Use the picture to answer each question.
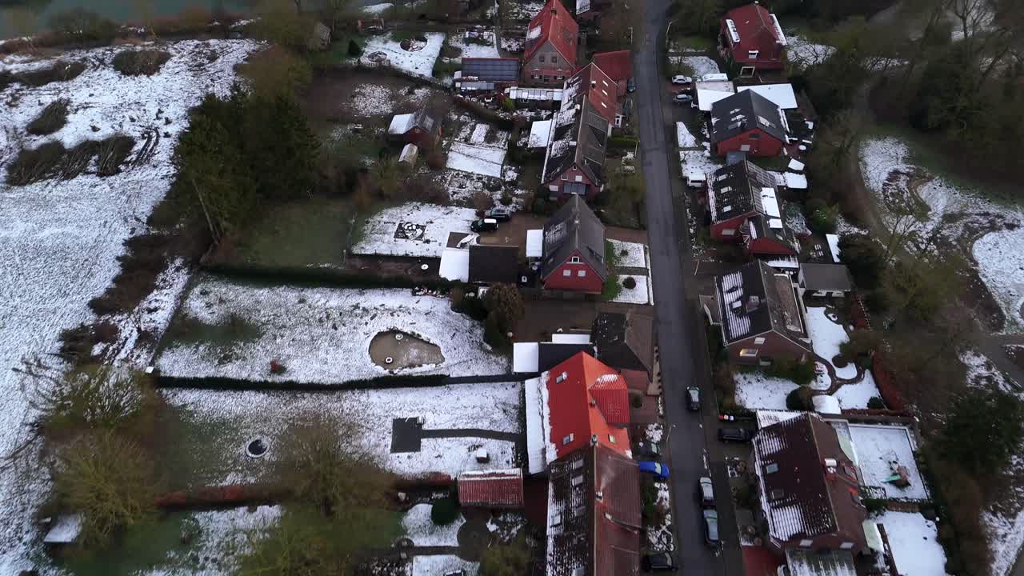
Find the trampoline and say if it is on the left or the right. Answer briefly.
left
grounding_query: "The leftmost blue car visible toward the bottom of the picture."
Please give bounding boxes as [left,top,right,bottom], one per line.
[637,461,670,479]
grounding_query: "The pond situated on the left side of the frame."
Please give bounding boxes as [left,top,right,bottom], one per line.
[370,330,445,371]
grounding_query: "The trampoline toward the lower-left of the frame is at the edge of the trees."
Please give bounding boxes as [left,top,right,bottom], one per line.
[244,435,269,457]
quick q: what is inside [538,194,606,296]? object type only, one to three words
house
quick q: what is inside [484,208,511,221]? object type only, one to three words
vehicle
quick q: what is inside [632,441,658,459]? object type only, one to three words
car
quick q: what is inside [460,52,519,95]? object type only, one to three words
building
